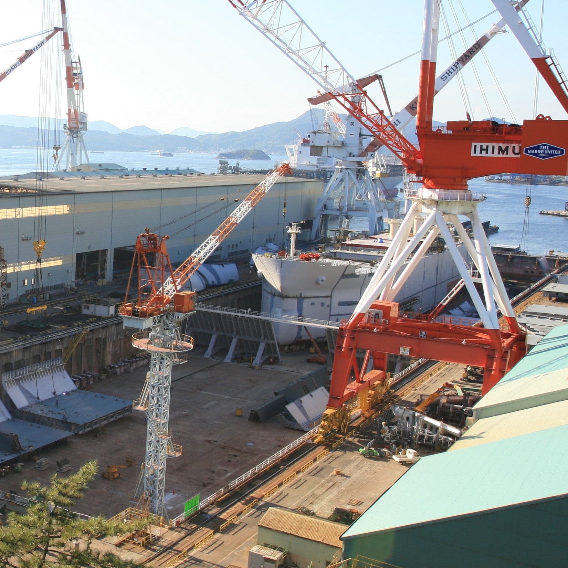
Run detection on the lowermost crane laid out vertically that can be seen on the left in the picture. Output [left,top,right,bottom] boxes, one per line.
[118,169,298,519]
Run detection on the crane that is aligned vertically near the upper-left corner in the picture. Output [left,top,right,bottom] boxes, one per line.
[52,0,91,172]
